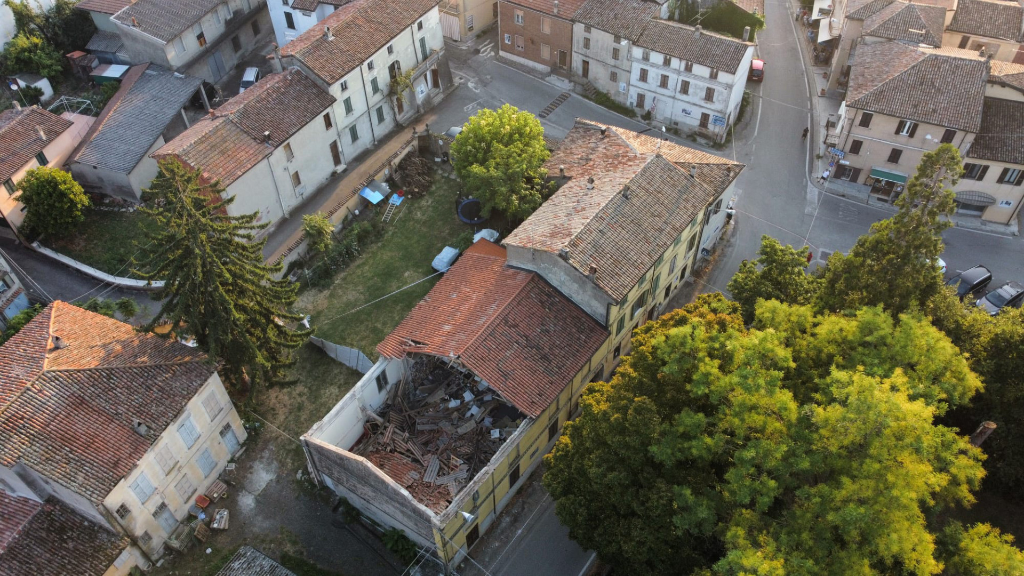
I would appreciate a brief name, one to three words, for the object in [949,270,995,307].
car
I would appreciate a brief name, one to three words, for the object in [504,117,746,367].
house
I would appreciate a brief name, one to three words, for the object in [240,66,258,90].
vehicle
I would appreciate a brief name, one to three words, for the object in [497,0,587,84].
house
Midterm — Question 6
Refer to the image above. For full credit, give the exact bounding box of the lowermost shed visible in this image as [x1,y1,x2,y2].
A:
[222,544,294,576]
